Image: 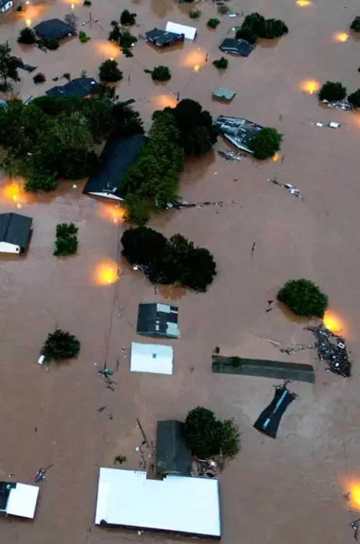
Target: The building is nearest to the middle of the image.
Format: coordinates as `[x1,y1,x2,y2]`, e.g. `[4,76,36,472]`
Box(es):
[137,301,181,340]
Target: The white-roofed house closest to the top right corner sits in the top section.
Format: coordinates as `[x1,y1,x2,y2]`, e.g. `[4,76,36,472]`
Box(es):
[165,22,197,44]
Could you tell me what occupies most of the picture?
water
